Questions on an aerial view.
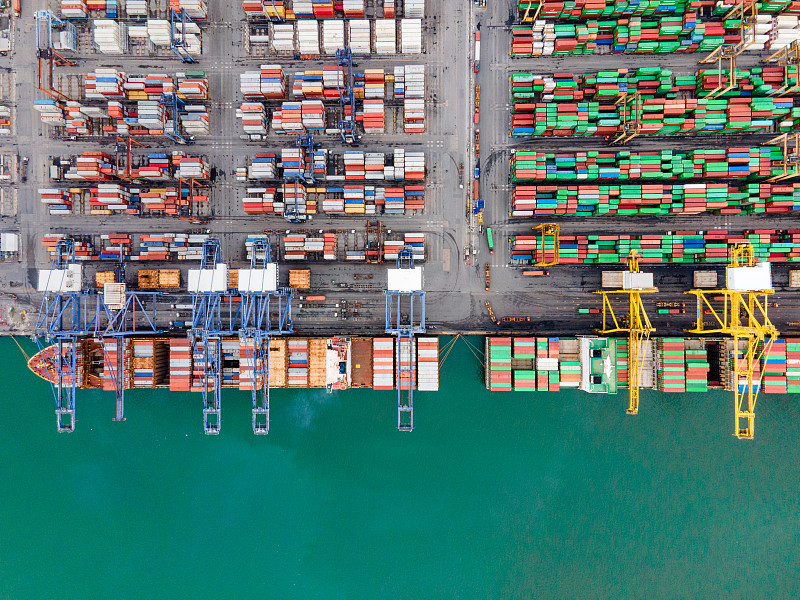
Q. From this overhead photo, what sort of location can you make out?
port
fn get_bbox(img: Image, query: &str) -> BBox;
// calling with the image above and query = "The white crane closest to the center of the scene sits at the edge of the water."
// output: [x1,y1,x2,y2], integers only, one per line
[385,248,427,432]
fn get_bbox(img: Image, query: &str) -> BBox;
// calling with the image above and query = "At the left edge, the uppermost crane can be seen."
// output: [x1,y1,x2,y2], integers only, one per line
[35,11,78,68]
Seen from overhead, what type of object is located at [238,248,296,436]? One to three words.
container crane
